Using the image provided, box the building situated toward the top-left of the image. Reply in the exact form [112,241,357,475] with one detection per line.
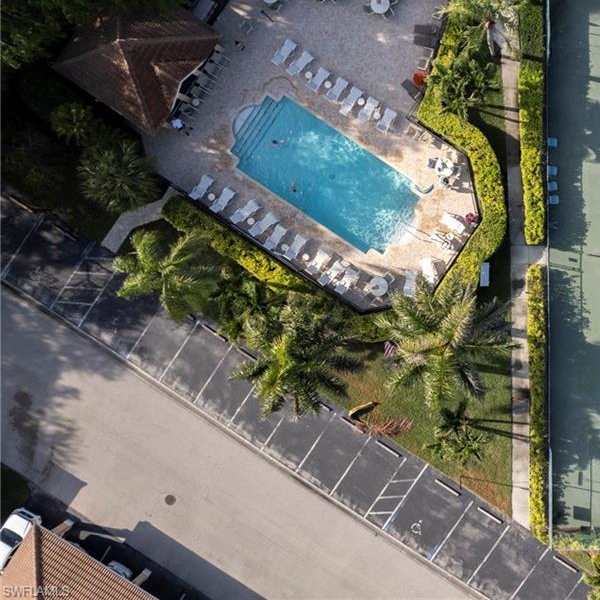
[50,0,234,140]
